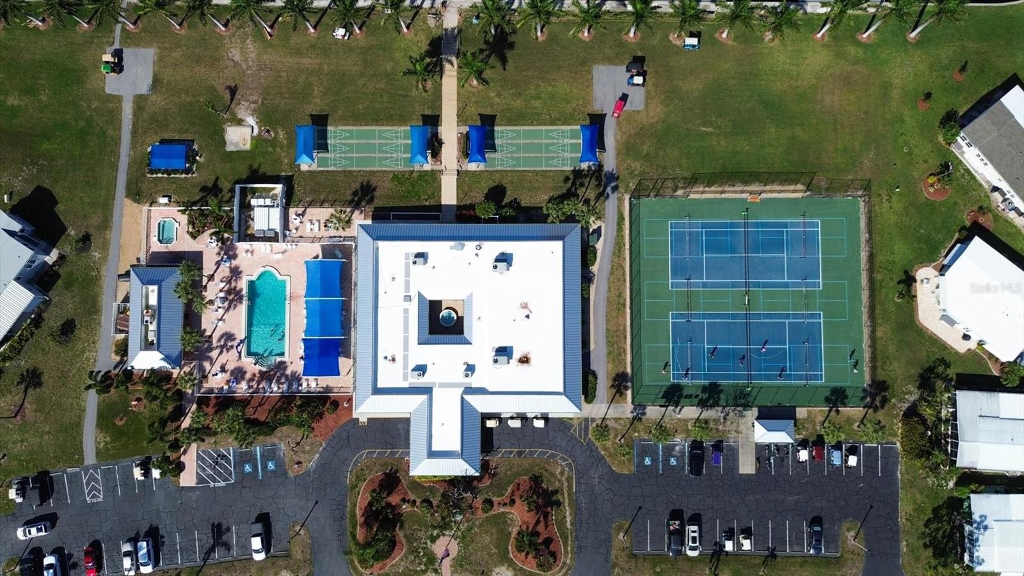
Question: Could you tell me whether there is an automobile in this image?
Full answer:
Yes, the image includes an automobile.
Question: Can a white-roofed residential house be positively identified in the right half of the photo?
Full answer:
Yes, the scene does show a white-roofed residential house in the right half of the photo.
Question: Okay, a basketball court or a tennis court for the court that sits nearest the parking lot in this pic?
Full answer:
What you see as the court that sits nearest the parking lot is a tennis court.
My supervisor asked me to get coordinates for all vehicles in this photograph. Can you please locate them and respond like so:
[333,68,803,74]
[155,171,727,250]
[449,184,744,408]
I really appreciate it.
[83,544,101,575]
[611,97,625,118]
[722,533,733,552]
[135,461,150,480]
[17,520,53,540]
[680,38,699,49]
[738,533,751,551]
[151,464,165,479]
[103,54,121,65]
[33,470,55,507]
[794,445,807,463]
[627,76,645,87]
[42,553,61,576]
[686,522,701,555]
[250,523,267,559]
[16,553,36,576]
[808,519,824,552]
[667,518,683,556]
[484,417,500,427]
[809,443,823,464]
[506,417,522,427]
[121,540,138,574]
[827,445,841,465]
[9,482,25,501]
[843,450,857,468]
[689,440,705,477]
[136,537,156,572]
[624,62,643,73]
[335,28,351,42]
[531,417,546,427]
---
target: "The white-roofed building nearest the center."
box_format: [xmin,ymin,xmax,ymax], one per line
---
[355,223,582,476]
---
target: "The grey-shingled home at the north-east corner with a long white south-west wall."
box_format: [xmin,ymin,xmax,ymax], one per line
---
[948,85,1024,227]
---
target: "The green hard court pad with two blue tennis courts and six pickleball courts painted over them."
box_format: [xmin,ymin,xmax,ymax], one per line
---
[630,198,866,406]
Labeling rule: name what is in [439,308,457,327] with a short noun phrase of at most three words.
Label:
fountain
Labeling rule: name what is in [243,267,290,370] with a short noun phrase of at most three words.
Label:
swimming pool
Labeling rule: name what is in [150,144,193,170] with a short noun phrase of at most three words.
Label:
building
